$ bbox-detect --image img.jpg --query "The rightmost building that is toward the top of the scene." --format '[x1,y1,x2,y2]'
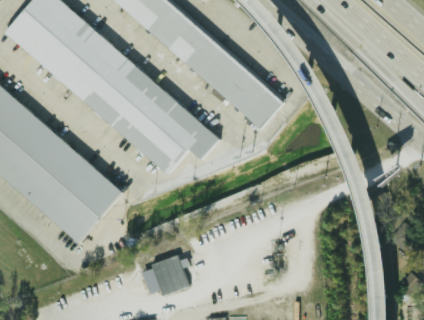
[117,0,286,129]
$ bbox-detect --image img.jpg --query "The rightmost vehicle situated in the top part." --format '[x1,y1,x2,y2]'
[400,76,416,91]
